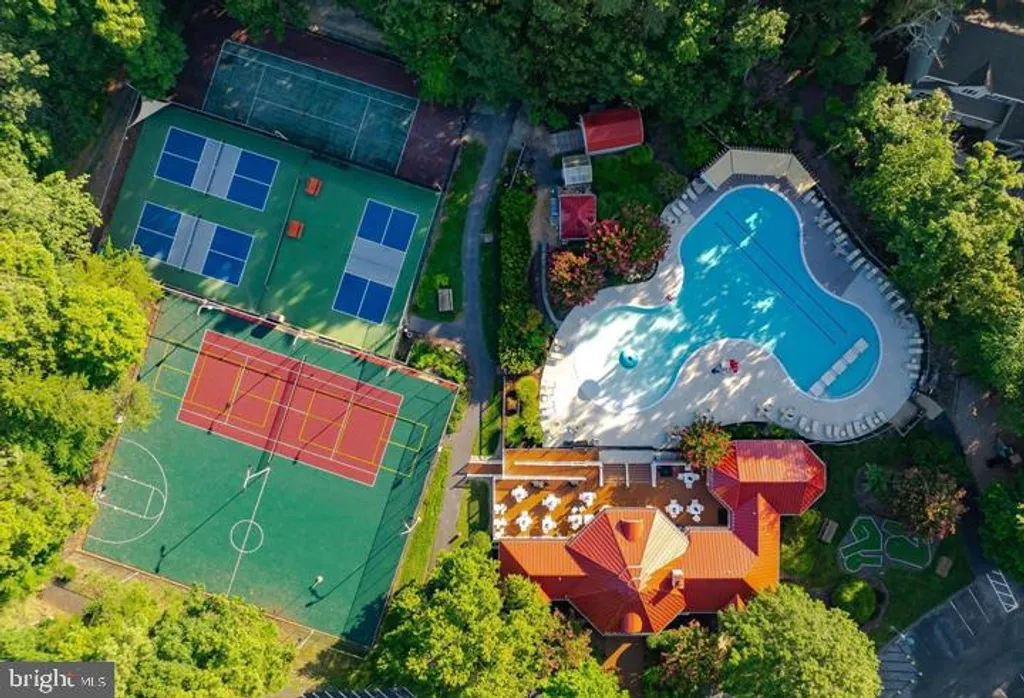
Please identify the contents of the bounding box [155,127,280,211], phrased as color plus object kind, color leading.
blue sports court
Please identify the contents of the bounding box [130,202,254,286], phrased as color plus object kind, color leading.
blue sports court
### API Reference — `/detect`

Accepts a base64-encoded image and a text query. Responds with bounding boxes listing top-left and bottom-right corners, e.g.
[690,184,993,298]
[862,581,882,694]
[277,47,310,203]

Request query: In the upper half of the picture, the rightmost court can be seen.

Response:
[332,198,419,326]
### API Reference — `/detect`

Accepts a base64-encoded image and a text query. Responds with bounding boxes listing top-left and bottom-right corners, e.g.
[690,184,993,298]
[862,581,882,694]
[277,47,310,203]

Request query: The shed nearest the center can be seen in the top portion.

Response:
[559,194,598,242]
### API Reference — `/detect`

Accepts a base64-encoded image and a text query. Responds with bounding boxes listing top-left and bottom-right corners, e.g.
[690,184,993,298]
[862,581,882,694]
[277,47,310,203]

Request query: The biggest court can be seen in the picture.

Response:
[82,291,458,649]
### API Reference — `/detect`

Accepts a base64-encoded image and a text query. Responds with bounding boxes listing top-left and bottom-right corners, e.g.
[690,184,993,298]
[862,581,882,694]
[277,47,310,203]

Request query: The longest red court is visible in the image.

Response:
[176,330,404,486]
